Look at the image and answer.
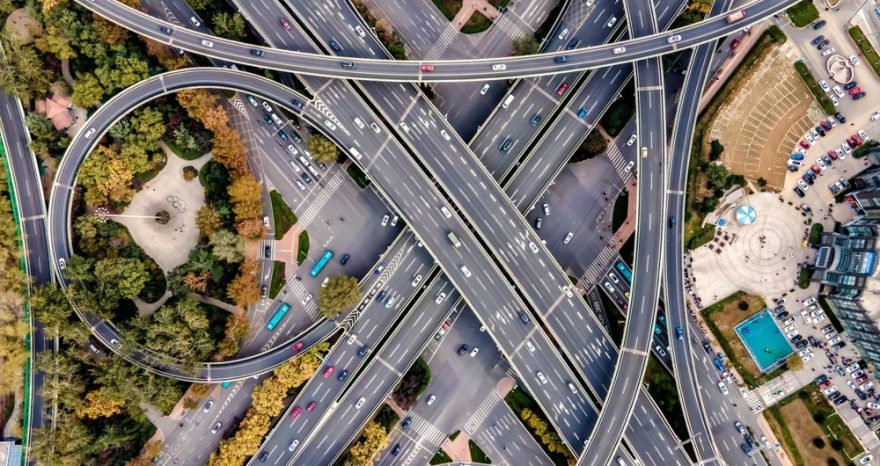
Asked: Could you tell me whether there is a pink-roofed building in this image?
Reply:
Yes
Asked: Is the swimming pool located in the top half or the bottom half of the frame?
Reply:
bottom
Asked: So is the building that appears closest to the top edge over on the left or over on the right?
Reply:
left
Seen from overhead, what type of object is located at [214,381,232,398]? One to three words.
vehicle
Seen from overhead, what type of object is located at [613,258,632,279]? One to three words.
vehicle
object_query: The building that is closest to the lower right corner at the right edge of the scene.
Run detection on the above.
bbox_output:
[832,288,880,391]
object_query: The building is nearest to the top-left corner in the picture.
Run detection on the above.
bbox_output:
[39,91,81,132]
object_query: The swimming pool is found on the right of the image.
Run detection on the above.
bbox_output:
[735,310,797,374]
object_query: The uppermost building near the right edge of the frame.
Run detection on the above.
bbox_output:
[838,161,880,214]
